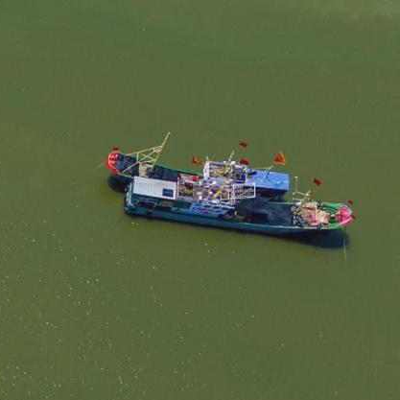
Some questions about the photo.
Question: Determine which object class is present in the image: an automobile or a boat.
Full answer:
The image shows a boat.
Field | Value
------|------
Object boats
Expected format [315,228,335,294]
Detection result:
[73,131,291,199]
[126,169,354,257]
